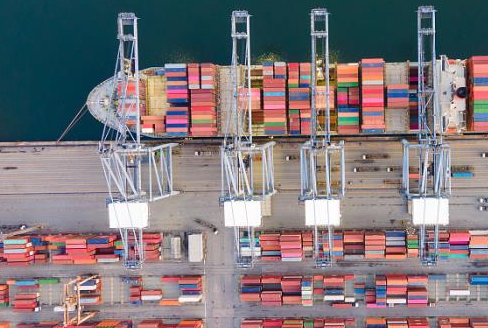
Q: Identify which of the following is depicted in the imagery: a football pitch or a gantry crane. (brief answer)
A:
gantry crane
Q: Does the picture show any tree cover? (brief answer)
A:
No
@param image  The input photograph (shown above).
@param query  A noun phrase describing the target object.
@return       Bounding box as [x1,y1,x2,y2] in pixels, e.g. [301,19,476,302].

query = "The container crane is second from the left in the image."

[92,11,187,269]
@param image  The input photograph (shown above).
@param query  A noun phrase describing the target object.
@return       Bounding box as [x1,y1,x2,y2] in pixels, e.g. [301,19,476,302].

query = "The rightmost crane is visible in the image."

[396,4,452,269]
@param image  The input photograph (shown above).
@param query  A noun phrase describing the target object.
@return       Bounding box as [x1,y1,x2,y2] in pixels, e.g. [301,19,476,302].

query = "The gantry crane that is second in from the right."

[297,6,350,269]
